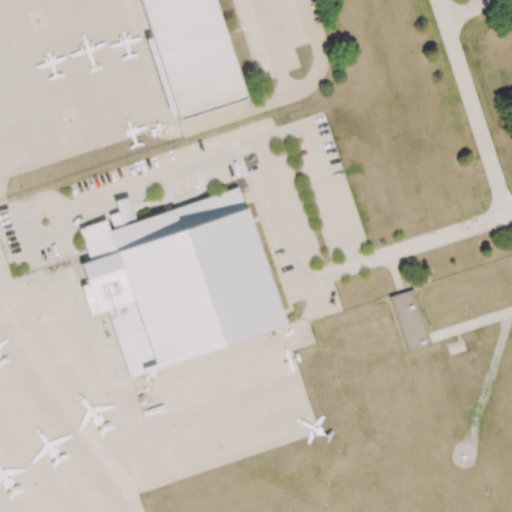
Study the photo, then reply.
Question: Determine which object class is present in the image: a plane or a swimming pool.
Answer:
plane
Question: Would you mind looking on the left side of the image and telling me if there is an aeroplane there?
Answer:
Yes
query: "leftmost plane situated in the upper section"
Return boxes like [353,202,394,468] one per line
[36,50,67,78]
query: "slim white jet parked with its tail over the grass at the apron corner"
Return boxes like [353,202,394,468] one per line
[296,416,335,446]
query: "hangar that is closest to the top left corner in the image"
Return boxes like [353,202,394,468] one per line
[143,0,250,120]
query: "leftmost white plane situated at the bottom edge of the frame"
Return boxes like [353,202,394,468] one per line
[0,468,26,501]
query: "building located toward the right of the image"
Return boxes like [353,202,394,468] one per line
[390,290,431,352]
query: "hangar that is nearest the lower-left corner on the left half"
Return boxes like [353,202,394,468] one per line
[80,186,289,378]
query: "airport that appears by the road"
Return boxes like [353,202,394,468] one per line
[0,0,316,512]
